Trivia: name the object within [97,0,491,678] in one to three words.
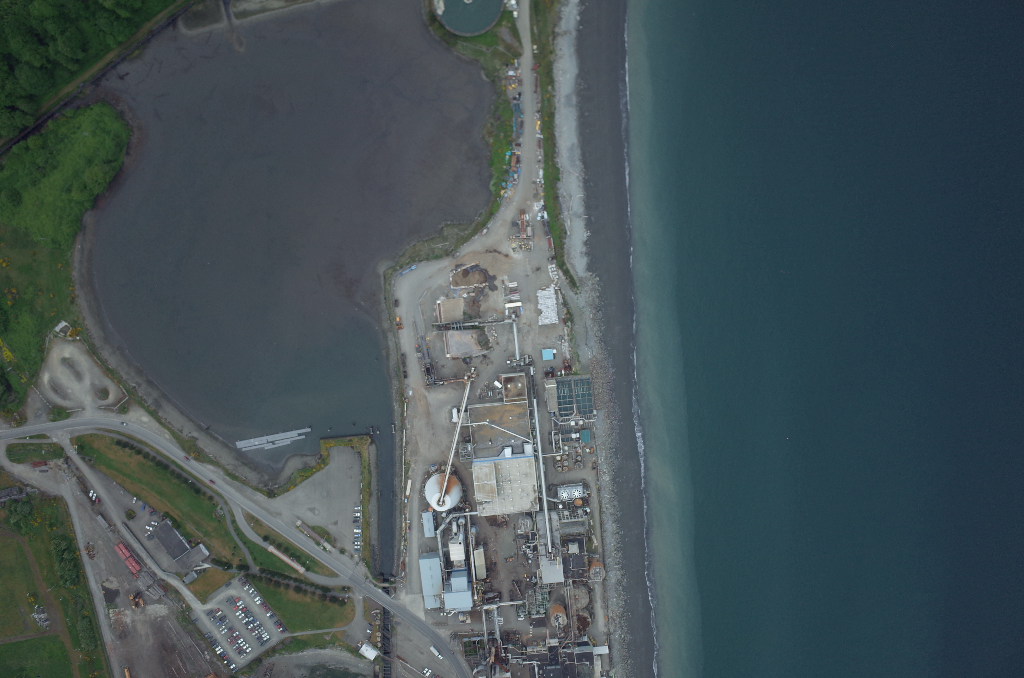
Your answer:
pond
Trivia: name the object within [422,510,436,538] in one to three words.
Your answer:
shed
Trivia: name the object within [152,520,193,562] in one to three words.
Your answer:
building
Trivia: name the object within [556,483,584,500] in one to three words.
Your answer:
cooling tower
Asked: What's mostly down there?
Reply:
water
